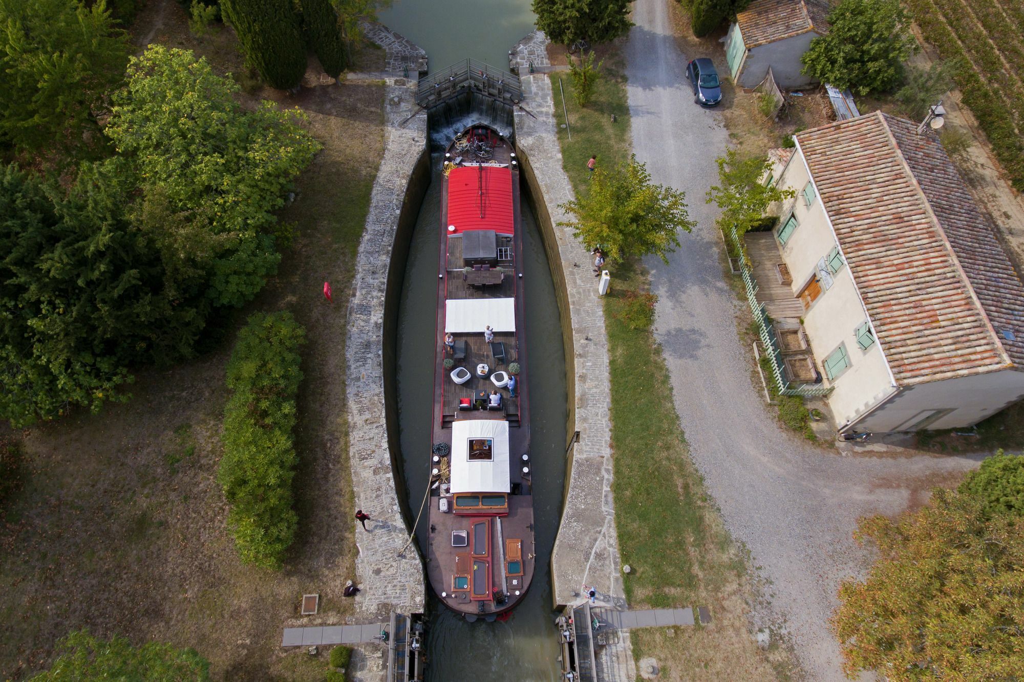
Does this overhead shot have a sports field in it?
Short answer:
No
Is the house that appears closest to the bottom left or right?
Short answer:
right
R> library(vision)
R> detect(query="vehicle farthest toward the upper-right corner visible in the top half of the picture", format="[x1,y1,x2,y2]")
[684,56,724,107]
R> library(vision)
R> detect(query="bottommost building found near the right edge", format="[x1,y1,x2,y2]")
[750,105,1024,430]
